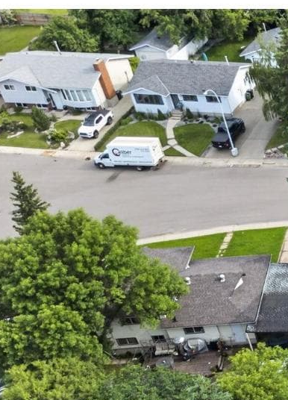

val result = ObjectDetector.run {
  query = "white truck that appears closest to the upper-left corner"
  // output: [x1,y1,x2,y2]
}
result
[75,108,115,135]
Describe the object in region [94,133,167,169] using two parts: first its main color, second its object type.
white truck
